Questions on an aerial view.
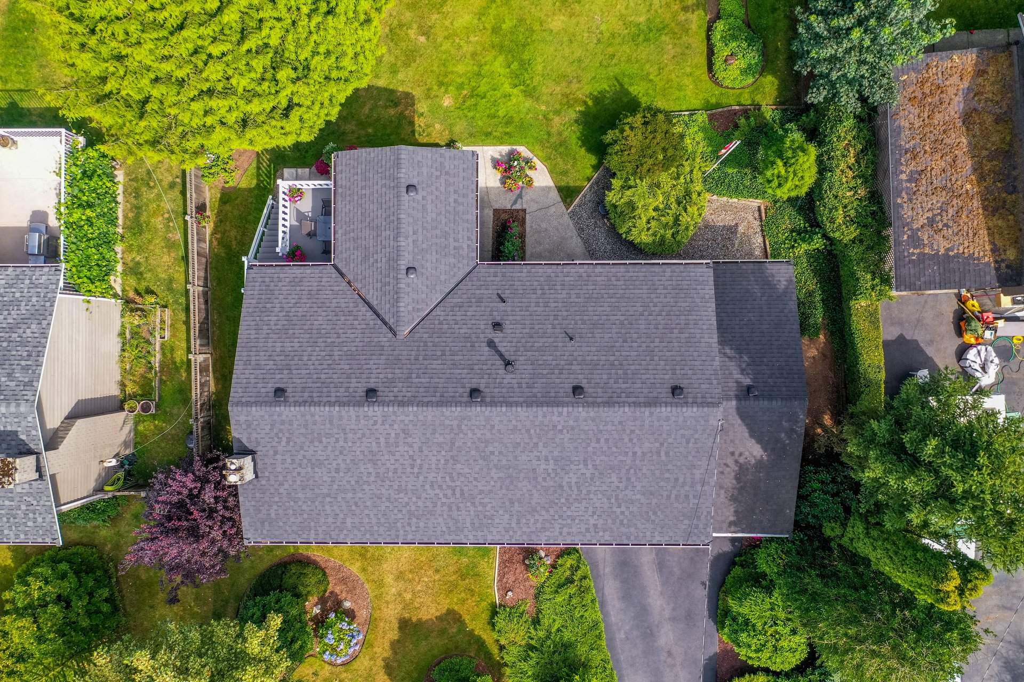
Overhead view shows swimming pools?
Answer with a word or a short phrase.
No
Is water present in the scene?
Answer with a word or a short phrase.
No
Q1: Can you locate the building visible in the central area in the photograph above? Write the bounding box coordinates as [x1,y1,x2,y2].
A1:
[222,146,809,547]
